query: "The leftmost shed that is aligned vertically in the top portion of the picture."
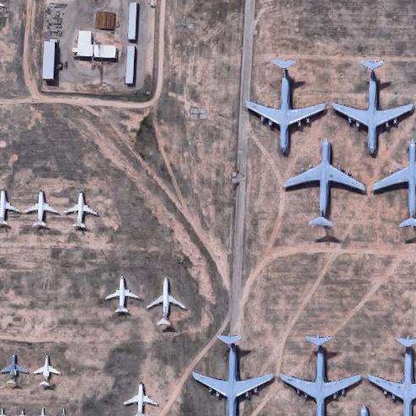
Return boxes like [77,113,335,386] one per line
[42,41,58,81]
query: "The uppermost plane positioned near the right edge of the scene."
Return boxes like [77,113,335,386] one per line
[334,59,413,157]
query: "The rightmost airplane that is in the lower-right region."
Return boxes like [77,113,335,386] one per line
[368,336,416,416]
